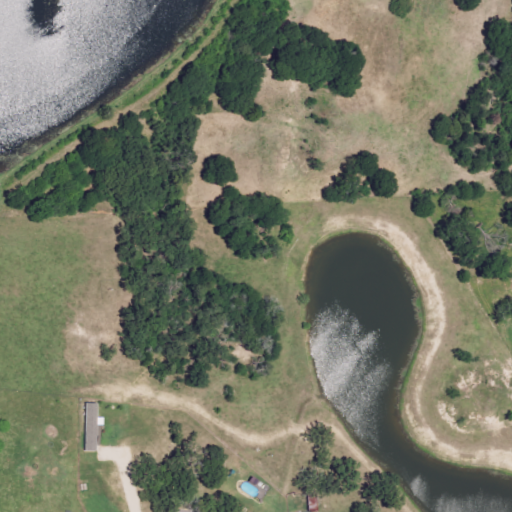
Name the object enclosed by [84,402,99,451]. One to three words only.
house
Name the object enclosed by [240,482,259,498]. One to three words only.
swimming pool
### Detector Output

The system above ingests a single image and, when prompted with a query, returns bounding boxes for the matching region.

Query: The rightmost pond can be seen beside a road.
[304,231,512,512]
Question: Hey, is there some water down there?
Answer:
Yes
